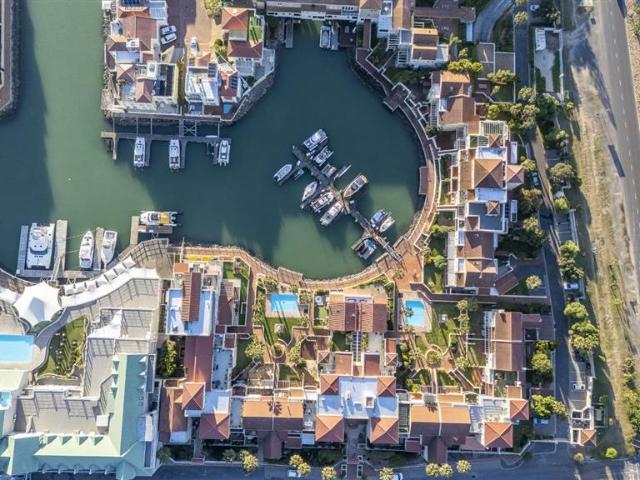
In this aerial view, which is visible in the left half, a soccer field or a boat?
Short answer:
boat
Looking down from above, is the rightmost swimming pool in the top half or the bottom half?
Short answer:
bottom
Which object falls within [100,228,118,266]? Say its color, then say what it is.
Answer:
white boat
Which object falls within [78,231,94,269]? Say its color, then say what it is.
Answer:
white boat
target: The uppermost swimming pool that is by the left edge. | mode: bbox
[0,334,35,364]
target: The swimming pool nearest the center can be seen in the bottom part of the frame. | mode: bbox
[270,292,299,313]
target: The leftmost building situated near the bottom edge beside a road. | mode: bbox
[0,351,161,479]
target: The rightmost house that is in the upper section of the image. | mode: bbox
[532,29,559,52]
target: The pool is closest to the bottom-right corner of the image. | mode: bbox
[404,299,426,328]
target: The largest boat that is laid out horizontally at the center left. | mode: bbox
[139,208,179,226]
